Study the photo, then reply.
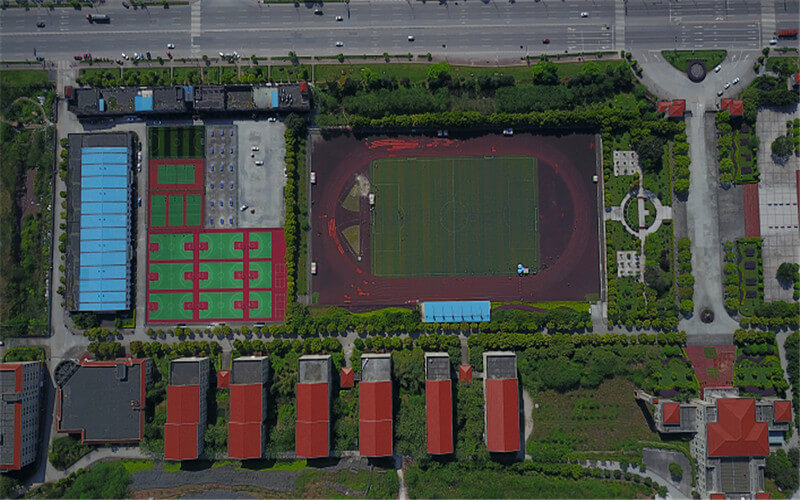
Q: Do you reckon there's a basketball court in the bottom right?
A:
No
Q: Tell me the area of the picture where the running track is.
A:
center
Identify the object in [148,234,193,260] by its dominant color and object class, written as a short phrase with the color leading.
green basketball court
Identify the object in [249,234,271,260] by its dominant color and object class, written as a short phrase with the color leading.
green basketball court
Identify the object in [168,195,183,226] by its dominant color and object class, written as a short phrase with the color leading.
green tennis court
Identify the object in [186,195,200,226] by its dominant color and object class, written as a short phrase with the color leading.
green tennis court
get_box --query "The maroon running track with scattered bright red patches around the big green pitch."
[312,130,601,306]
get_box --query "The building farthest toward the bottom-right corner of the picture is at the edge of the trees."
[651,381,791,500]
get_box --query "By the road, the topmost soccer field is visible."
[148,126,204,158]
